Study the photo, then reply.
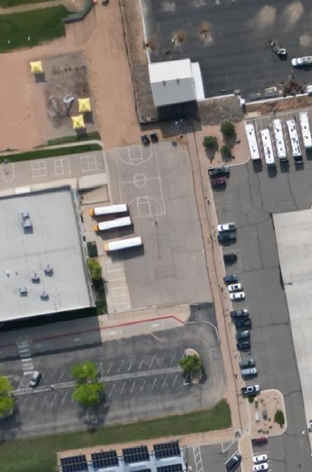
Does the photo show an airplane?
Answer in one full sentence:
No, I can see no airplane in this picture.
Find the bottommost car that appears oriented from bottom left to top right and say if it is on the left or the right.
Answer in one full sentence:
The bottommost car that appears oriented from bottom left to top right appears in the right half of the scene.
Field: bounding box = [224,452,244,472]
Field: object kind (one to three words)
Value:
car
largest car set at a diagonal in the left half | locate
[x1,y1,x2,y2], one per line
[30,371,44,387]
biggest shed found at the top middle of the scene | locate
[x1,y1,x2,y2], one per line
[149,59,207,110]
